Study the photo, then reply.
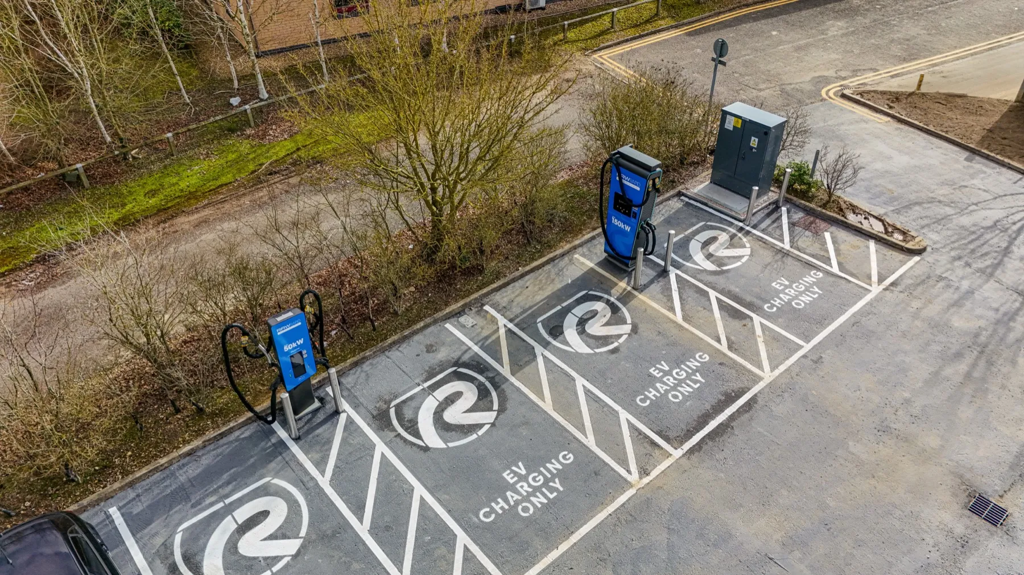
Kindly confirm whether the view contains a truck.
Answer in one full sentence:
No, there's no truck here.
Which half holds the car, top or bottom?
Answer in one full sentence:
The car is in the bottom half of the image.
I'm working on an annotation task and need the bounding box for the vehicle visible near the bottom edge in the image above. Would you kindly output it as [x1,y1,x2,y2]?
[0,504,124,575]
